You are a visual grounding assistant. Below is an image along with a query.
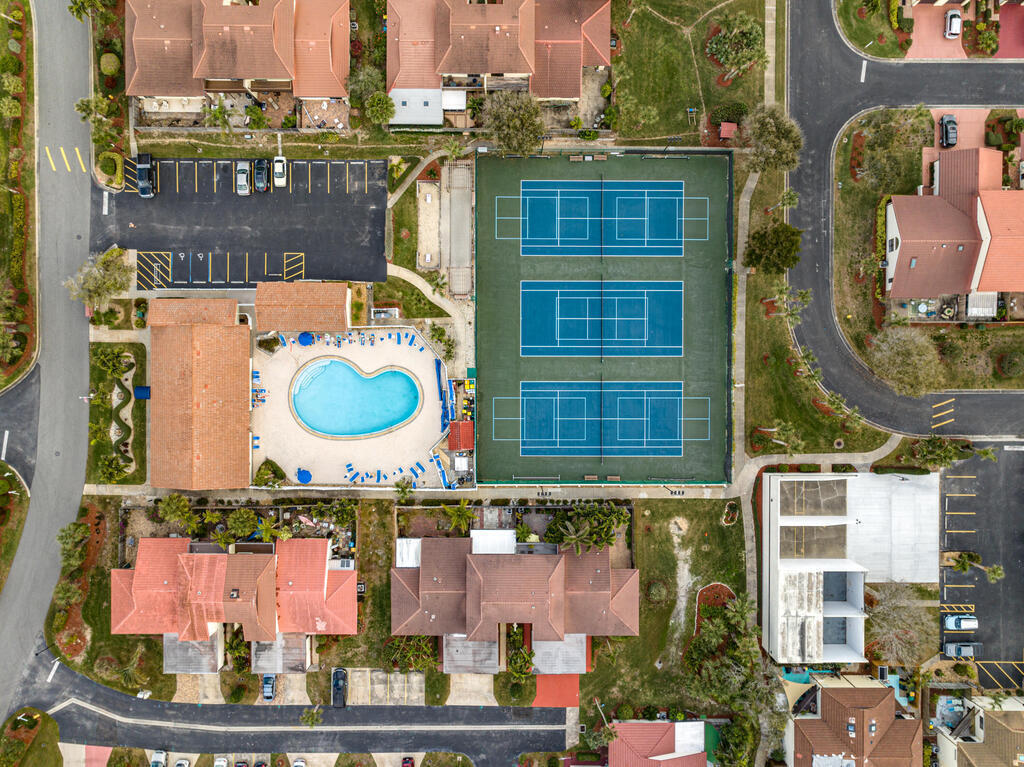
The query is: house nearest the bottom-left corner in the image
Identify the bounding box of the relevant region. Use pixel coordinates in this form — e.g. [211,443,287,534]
[111,537,358,674]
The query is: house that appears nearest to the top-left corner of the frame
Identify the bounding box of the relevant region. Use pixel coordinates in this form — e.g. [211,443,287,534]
[126,0,350,101]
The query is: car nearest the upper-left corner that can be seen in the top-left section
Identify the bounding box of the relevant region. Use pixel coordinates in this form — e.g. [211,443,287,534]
[136,156,155,198]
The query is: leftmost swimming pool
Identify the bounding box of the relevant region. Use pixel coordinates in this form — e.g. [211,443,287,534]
[289,355,425,440]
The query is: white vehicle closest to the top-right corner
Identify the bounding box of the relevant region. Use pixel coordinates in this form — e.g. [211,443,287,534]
[942,10,961,41]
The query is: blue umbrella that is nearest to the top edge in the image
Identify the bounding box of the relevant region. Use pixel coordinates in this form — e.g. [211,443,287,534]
[299,332,313,346]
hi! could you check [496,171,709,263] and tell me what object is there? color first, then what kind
blue tennis court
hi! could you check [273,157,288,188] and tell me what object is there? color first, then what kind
white car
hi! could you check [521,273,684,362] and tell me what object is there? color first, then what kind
blue tennis court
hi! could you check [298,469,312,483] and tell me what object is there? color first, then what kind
blue umbrella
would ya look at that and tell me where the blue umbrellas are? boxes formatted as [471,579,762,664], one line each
[299,332,313,346]
[298,469,312,483]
